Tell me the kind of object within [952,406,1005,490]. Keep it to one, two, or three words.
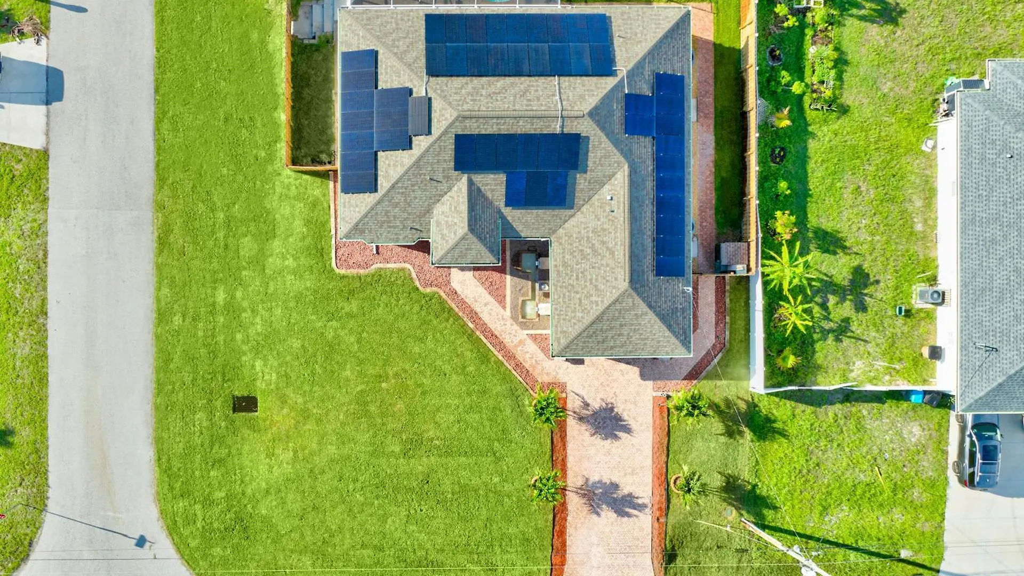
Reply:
car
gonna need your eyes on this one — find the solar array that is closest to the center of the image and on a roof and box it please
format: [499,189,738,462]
[455,133,580,207]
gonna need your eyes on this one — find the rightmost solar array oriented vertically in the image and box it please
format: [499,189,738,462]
[624,73,684,277]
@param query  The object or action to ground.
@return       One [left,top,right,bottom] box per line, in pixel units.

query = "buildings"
[938,60,1024,412]
[713,244,745,267]
[337,6,695,357]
